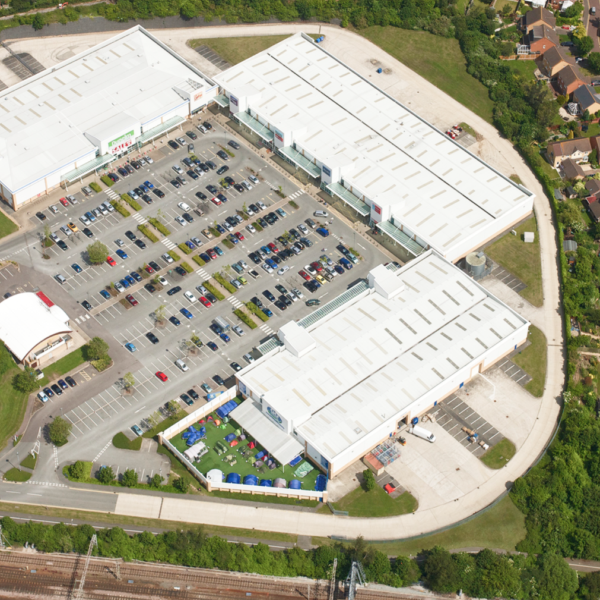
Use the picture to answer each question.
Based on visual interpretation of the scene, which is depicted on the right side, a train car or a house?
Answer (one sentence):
The feature located on the right side is a house.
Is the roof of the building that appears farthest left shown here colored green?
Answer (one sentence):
No, from above the roof of the building that appears farthest left looks white.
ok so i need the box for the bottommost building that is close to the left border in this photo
[0,290,73,367]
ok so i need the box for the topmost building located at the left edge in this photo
[0,24,219,210]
